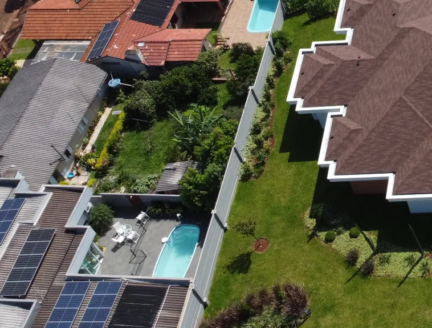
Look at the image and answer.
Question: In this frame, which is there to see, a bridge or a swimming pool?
swimming pool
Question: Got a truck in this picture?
No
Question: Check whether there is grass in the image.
Yes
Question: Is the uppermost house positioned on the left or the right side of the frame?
left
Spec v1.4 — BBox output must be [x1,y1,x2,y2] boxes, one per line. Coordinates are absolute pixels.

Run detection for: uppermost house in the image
[21,0,212,88]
